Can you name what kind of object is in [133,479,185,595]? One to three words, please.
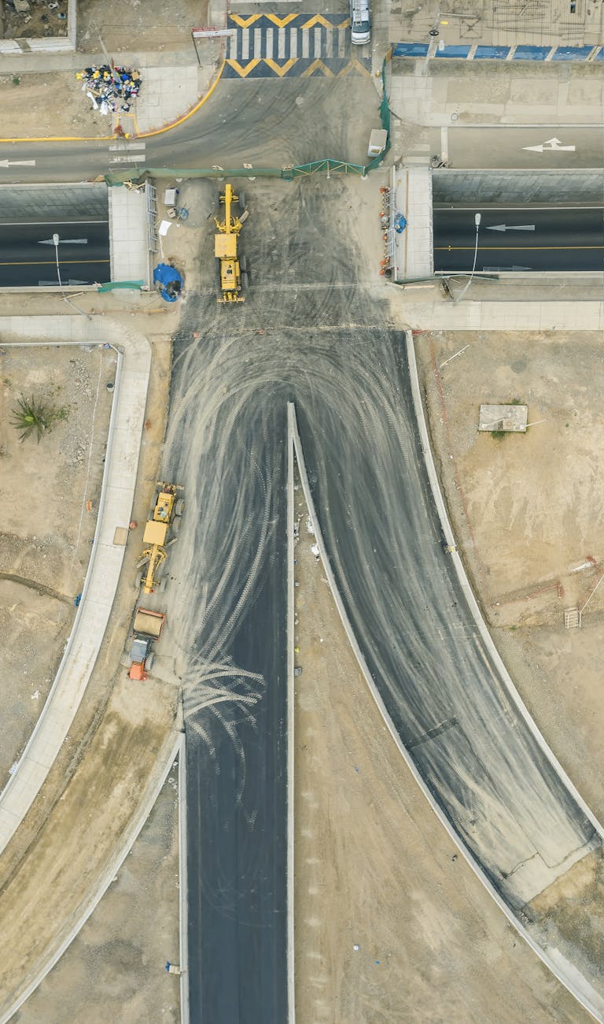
work vehicle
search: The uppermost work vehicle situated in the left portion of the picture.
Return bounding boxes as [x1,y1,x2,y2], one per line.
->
[212,189,248,309]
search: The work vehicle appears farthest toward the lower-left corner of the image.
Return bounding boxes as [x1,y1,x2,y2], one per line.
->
[125,608,167,684]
